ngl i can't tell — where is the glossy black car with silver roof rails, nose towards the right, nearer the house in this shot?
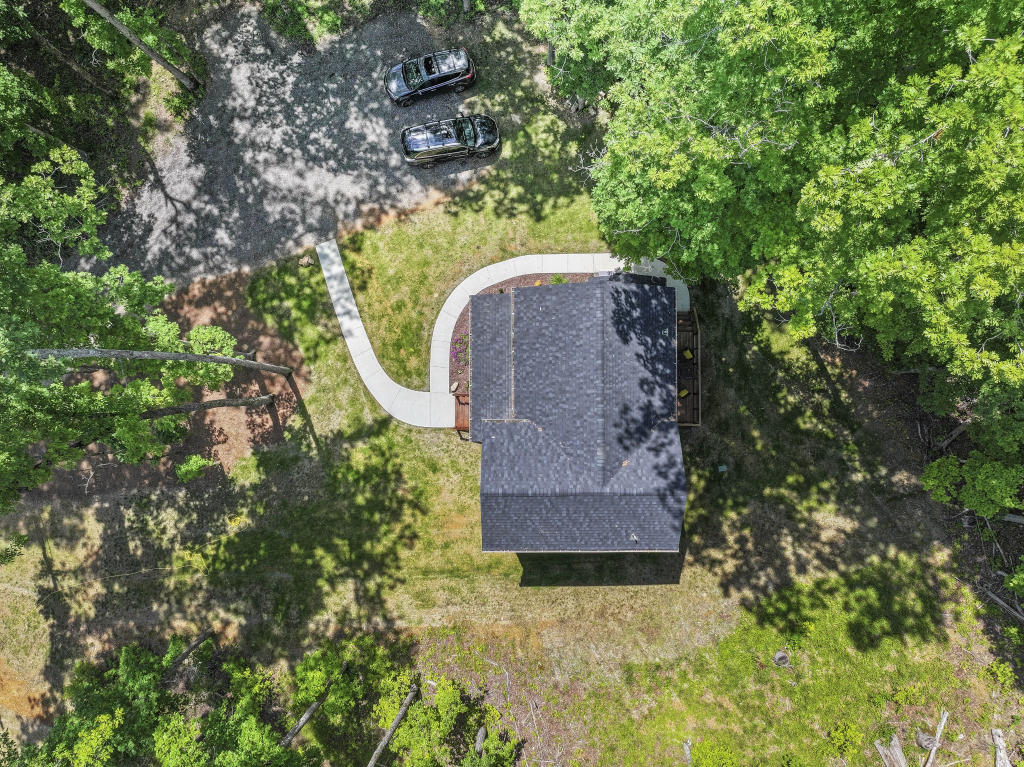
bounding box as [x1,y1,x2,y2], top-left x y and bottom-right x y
[402,112,502,170]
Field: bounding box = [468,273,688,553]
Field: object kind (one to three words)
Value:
house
